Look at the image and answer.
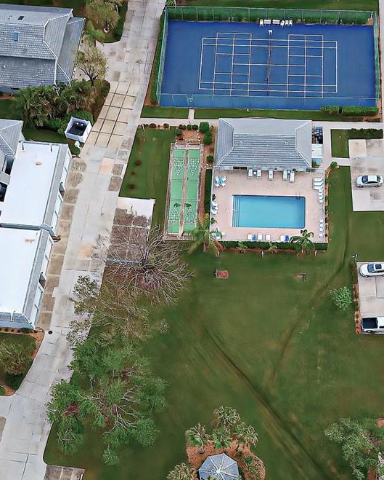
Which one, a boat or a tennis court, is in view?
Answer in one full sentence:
There is a tennis court in the scene.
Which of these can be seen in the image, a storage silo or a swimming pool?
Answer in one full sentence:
It is a swimming pool that can be seen here.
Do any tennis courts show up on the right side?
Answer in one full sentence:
Yes, a tennis court can be seen on the right side.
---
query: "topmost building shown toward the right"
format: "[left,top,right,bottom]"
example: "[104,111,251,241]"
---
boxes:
[215,118,312,174]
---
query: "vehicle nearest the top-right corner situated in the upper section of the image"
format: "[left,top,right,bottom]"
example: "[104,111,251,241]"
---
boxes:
[356,174,384,188]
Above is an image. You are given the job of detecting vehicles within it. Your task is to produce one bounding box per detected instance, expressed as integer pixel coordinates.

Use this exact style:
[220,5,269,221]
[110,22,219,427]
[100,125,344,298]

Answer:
[364,317,384,332]
[356,174,384,188]
[359,260,384,276]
